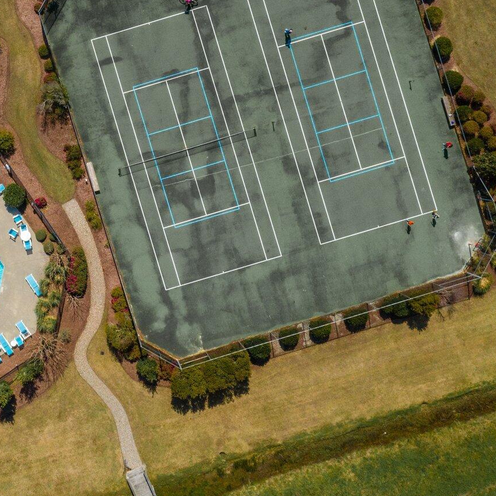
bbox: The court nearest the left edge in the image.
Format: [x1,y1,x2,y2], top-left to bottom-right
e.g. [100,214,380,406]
[91,5,281,291]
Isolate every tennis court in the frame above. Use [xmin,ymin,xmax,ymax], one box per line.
[91,5,281,291]
[248,0,437,245]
